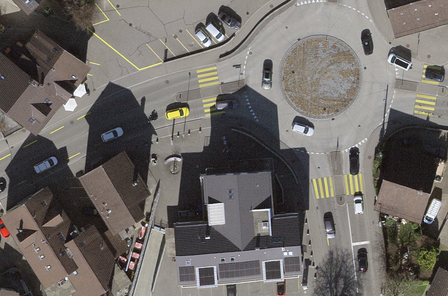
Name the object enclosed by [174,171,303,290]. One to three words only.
building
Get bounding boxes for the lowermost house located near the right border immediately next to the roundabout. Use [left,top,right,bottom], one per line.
[374,150,439,224]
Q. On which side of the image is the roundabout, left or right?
right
